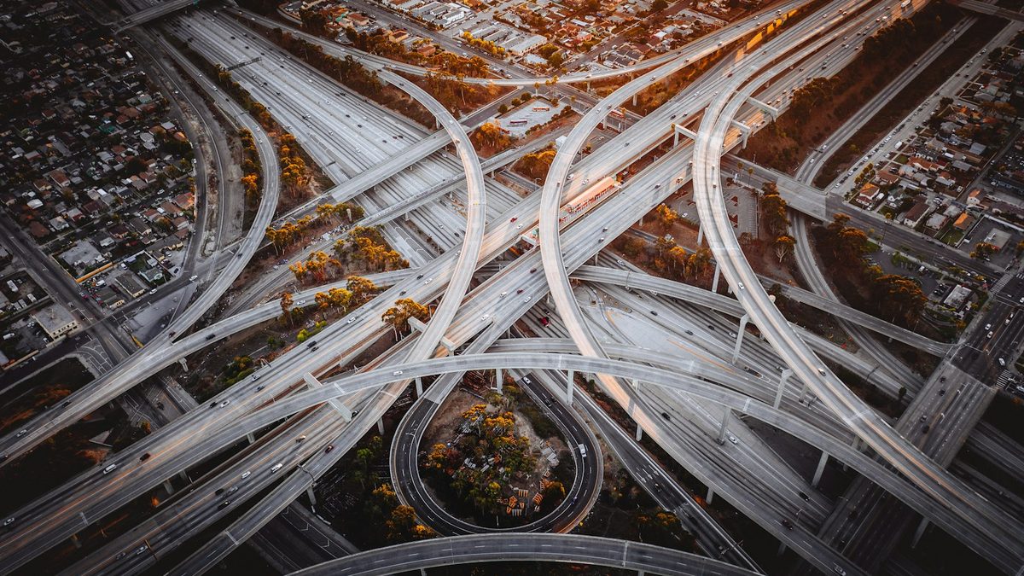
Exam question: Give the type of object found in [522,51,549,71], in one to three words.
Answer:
building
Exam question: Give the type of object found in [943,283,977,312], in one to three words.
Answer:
building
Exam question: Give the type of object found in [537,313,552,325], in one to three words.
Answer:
vehicle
